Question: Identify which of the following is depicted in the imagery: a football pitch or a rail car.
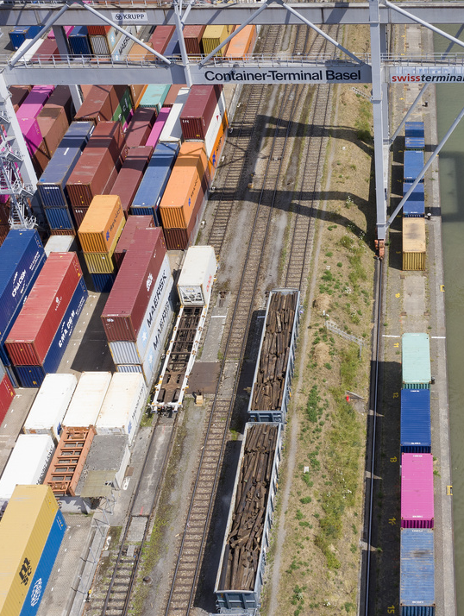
rail car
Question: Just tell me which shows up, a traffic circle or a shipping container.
shipping container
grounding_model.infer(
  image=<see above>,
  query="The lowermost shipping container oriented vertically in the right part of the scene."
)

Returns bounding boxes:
[399,528,436,615]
